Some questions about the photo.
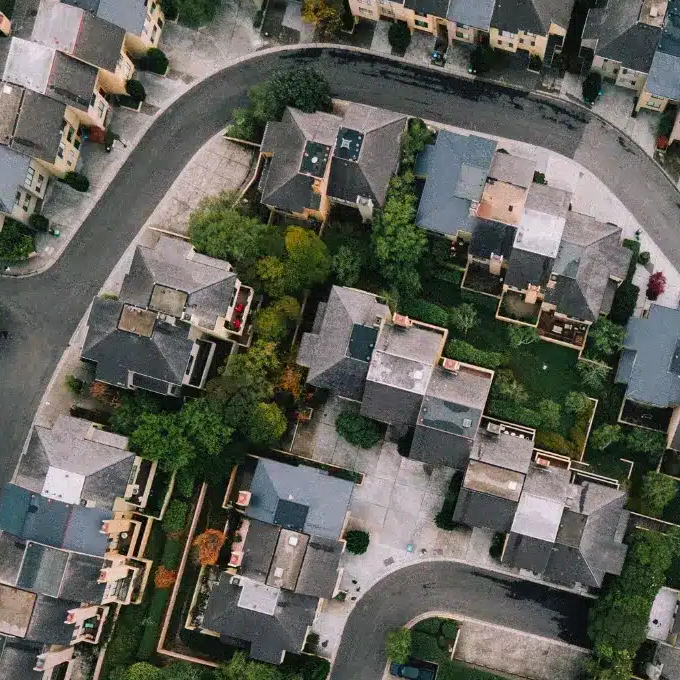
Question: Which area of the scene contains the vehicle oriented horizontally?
bottom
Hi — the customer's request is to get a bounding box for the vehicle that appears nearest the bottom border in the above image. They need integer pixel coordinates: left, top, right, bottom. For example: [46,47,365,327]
[389,660,435,680]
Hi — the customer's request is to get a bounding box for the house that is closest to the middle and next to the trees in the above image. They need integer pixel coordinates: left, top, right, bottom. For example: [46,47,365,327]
[295,285,393,403]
